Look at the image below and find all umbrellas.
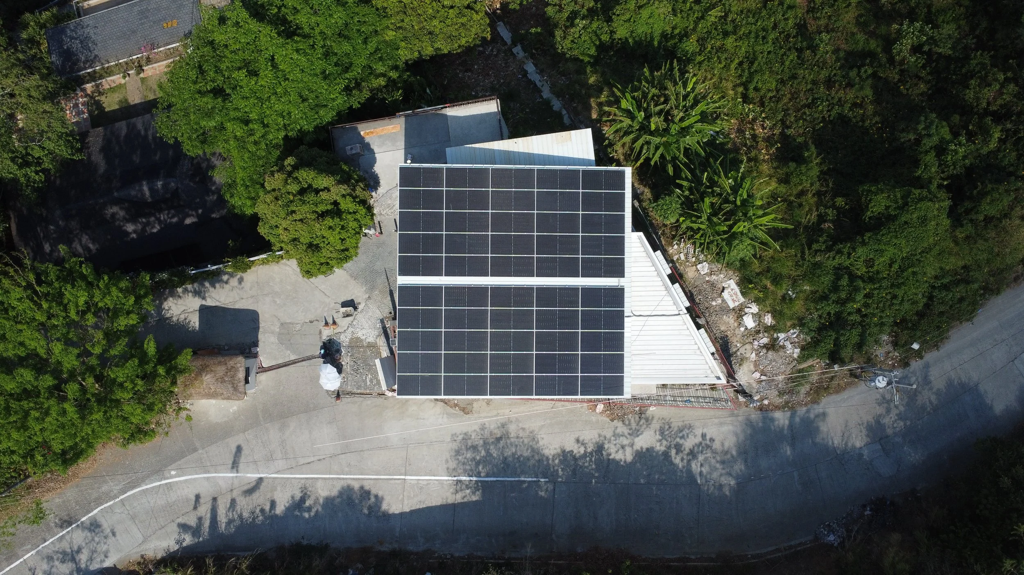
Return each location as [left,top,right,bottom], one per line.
[316,363,338,386]
[320,376,342,395]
